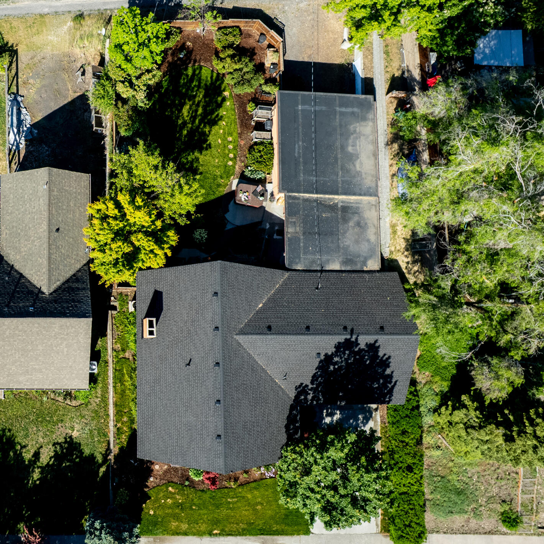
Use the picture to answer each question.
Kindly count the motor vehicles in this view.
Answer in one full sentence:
The picture shows no motor vehicles.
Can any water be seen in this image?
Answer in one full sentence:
No, there's no water in this view.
